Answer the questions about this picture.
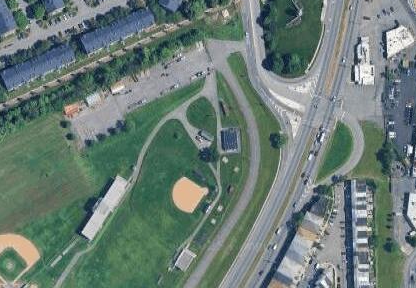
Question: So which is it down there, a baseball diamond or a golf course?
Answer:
baseball diamond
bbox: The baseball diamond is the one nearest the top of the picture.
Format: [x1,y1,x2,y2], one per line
[172,178,208,213]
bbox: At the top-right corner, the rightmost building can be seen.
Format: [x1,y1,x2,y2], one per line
[386,26,414,60]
